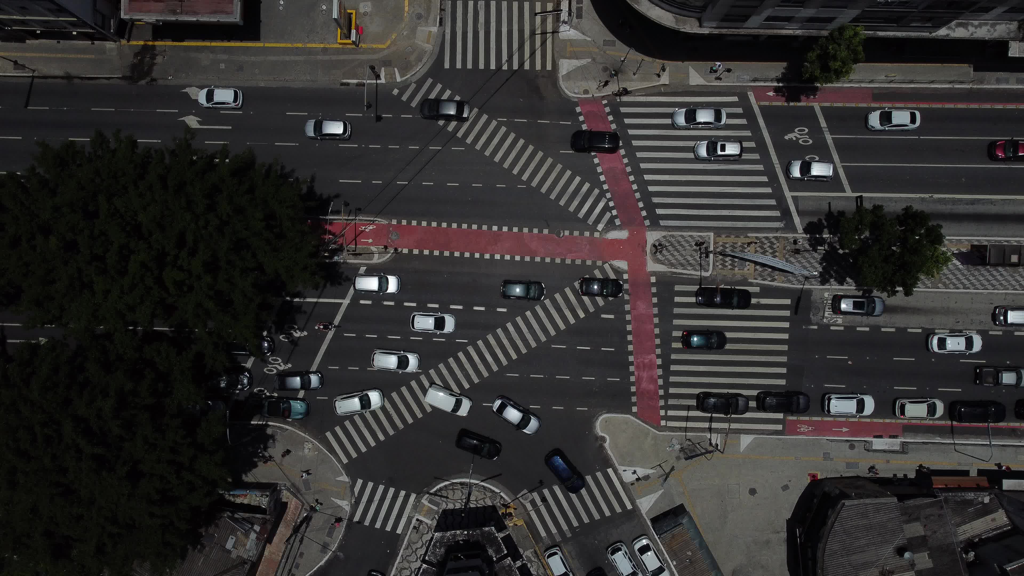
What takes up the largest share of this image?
paved ground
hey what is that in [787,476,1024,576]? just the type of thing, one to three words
building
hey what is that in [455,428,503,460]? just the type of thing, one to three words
car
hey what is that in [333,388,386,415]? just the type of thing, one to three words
car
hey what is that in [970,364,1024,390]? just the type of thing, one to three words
vehicle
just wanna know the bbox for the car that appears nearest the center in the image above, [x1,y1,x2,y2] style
[501,278,545,302]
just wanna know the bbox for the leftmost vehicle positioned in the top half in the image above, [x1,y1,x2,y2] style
[199,85,245,111]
